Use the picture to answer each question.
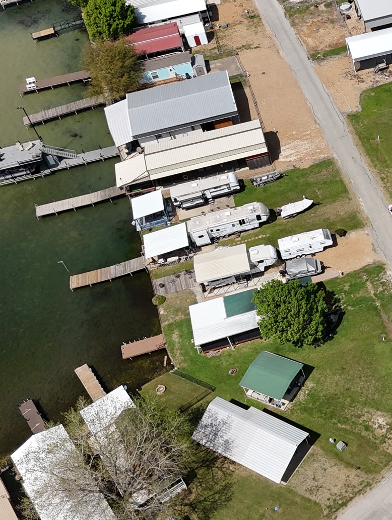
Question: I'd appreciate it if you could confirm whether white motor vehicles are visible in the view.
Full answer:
Yes, there's a white motor vehicle down there.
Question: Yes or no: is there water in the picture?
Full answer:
Yes, there's water in this view.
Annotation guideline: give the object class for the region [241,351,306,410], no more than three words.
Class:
building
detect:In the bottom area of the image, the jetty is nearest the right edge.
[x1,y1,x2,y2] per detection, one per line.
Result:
[122,333,165,362]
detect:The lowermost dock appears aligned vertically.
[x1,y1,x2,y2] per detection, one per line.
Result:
[21,397,43,438]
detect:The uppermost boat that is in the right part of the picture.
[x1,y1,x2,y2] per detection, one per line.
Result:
[250,172,279,185]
